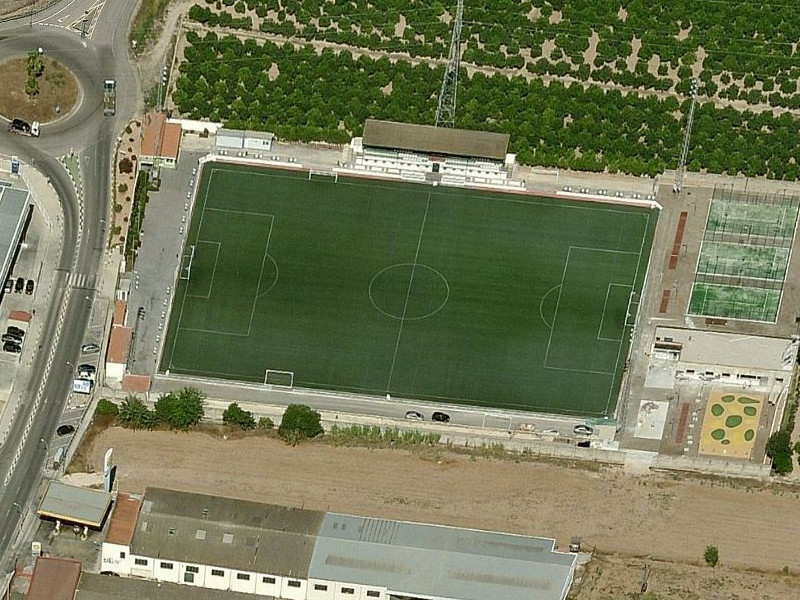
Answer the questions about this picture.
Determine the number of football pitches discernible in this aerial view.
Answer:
one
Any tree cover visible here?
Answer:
Yes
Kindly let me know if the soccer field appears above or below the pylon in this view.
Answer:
below it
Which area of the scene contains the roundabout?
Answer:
top left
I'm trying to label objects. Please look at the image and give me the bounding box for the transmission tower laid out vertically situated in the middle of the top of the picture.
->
[435,0,472,129]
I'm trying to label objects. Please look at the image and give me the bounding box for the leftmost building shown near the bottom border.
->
[23,556,83,600]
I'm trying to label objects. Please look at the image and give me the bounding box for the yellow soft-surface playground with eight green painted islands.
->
[698,391,764,459]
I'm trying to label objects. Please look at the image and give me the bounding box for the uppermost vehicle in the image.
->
[104,81,117,114]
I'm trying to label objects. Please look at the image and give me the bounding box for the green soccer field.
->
[160,162,660,420]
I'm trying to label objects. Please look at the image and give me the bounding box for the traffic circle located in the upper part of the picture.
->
[0,54,82,124]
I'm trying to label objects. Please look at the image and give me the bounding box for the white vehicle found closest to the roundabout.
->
[10,123,39,137]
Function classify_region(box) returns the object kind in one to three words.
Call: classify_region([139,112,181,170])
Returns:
building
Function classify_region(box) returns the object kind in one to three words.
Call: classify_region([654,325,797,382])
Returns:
building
